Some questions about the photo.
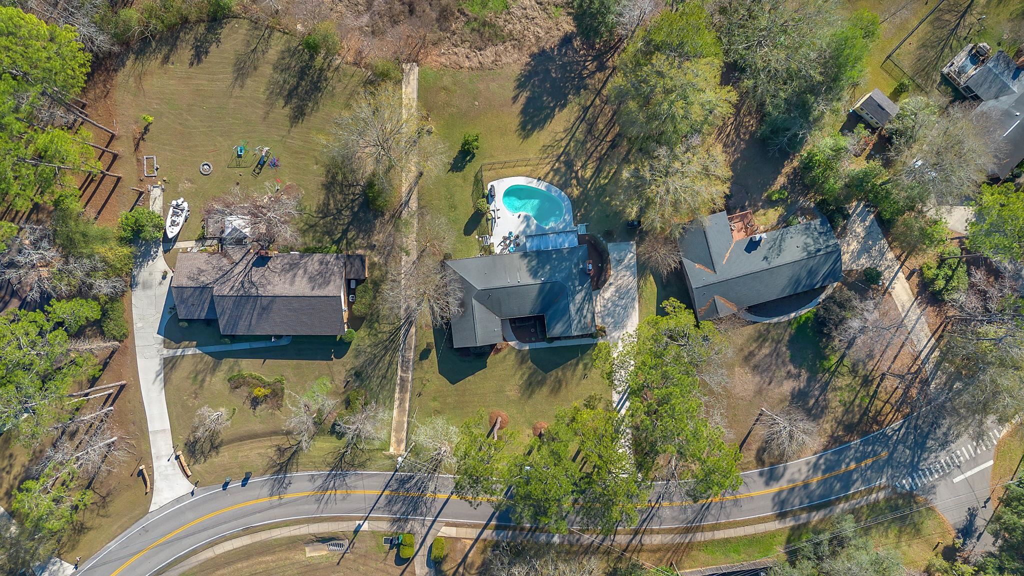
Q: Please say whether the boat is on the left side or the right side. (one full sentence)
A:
You can find the boat on the left side of the picture.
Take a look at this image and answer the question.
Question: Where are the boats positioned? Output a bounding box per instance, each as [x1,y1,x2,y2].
[165,197,188,238]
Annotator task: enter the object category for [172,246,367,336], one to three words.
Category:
house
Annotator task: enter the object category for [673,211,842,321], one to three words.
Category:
house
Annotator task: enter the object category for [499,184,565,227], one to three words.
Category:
swimming pool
